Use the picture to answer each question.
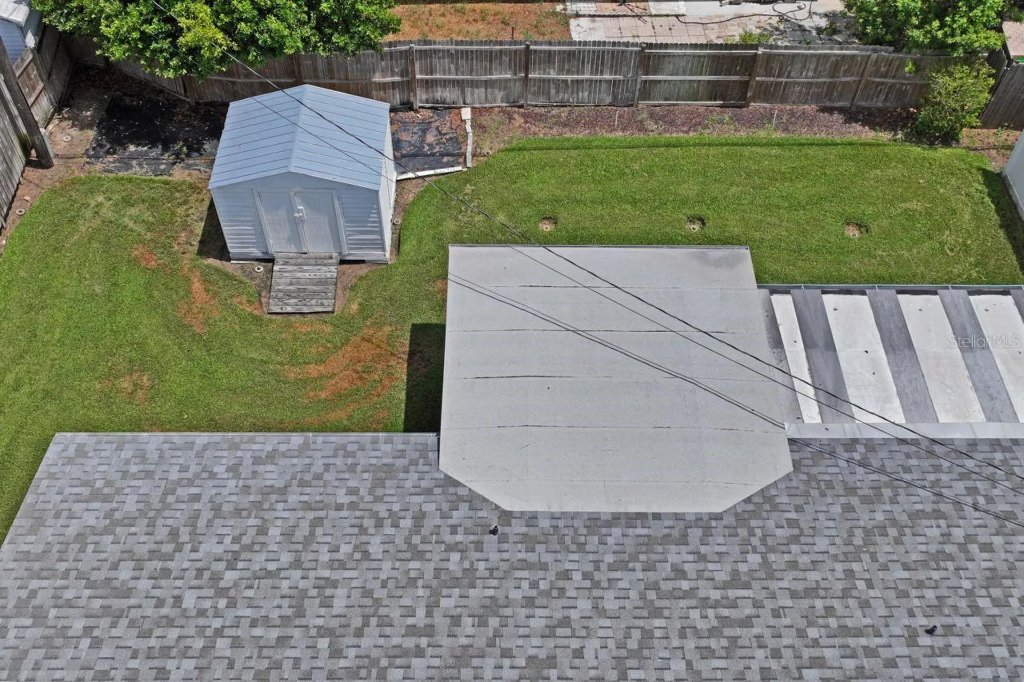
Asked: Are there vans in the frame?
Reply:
No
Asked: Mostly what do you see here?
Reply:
buildings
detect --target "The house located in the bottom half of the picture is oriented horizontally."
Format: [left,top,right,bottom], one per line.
[0,243,1024,682]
